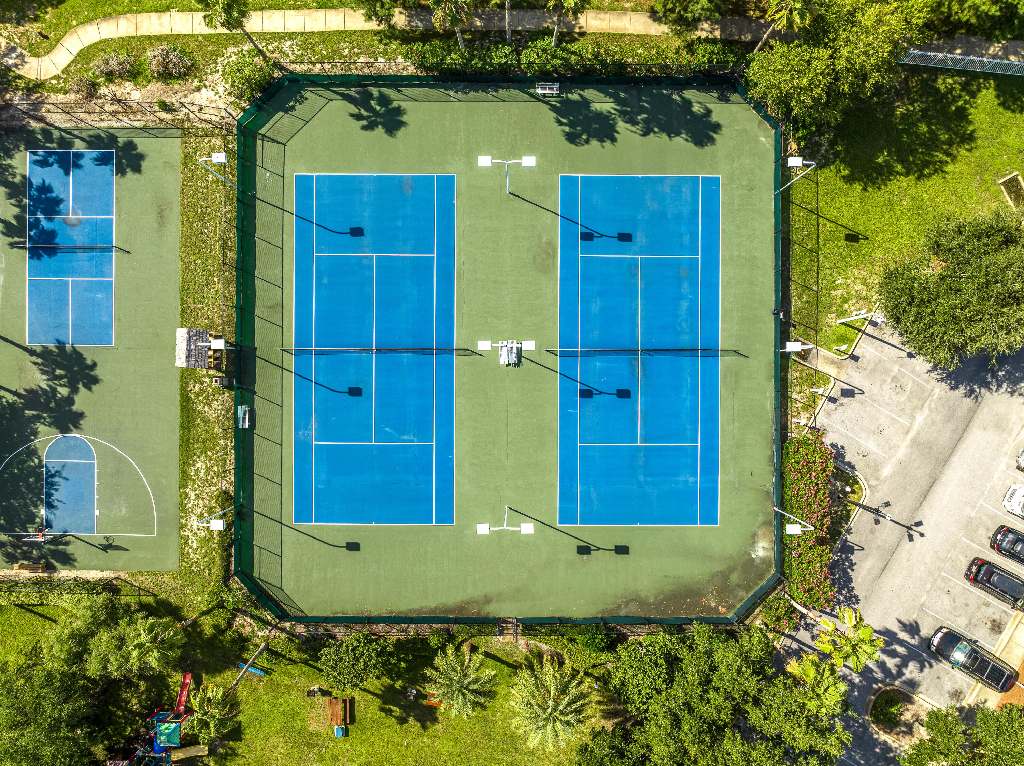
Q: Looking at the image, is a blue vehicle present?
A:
No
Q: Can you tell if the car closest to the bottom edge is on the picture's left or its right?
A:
right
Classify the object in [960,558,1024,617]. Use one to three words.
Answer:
car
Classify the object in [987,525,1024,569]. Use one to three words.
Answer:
car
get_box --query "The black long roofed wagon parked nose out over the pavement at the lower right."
[926,629,1012,693]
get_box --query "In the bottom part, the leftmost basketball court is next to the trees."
[0,435,156,536]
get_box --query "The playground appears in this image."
[105,672,210,766]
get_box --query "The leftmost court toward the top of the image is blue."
[26,150,115,346]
